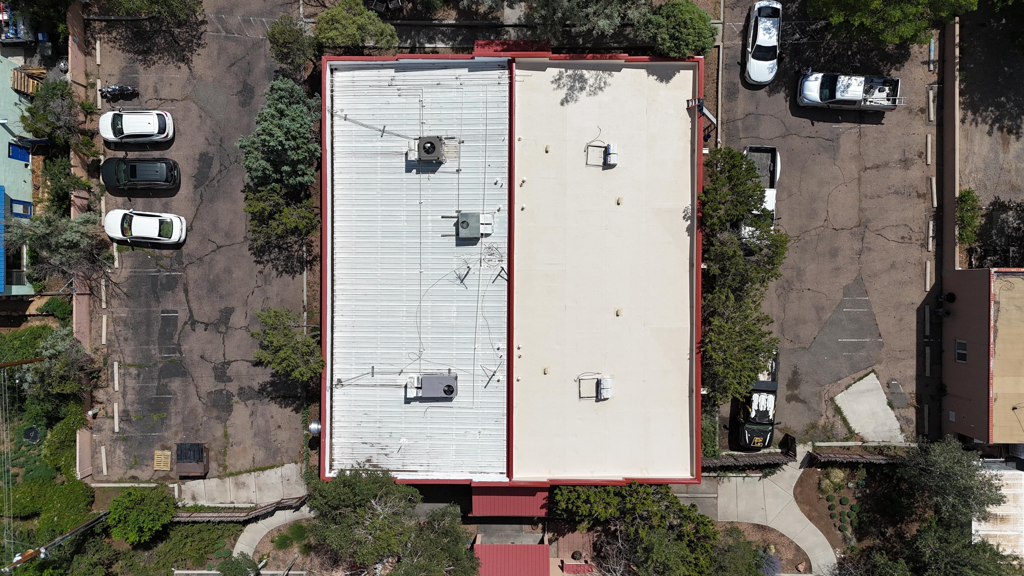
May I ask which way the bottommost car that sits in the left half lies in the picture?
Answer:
from side to side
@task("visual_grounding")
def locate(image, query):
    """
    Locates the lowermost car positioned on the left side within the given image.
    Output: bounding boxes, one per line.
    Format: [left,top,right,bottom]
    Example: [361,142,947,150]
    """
[105,207,187,245]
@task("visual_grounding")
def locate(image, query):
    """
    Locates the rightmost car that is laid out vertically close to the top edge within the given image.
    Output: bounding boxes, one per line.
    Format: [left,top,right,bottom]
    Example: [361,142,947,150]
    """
[742,4,783,86]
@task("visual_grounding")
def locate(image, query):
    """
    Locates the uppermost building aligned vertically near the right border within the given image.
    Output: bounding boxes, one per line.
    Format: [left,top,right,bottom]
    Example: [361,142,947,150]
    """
[943,268,1024,444]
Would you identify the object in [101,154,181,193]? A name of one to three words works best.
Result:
car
